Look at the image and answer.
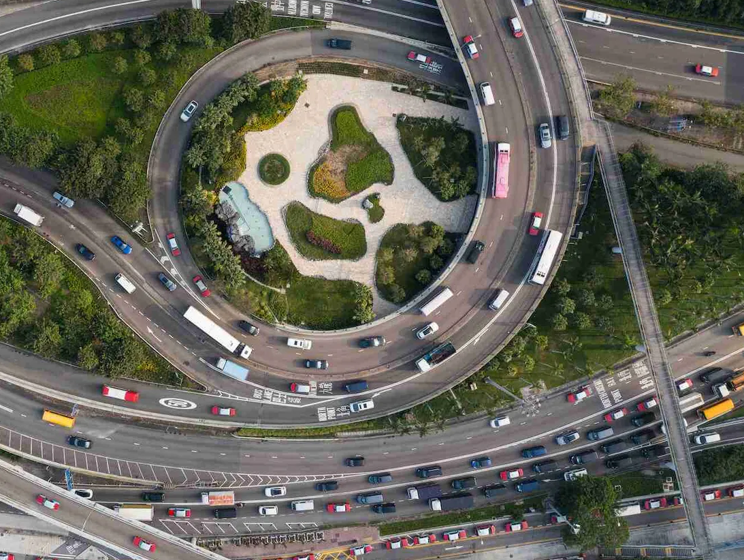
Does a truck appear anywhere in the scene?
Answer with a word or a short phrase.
Yes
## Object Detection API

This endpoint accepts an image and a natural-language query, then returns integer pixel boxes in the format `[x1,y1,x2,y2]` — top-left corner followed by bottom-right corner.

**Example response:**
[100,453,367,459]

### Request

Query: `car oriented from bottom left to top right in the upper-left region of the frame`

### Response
[180,99,199,123]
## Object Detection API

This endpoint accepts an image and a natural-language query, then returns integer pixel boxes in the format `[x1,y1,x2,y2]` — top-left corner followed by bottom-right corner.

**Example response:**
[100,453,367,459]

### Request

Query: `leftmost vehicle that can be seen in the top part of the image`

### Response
[15,204,46,226]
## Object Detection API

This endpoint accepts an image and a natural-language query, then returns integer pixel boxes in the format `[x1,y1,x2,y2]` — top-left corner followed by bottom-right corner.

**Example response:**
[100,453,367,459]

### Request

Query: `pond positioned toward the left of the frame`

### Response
[218,181,276,256]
